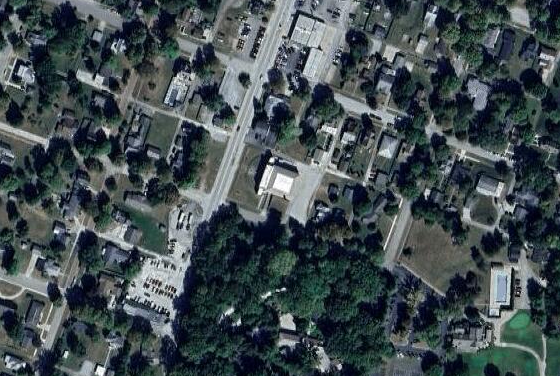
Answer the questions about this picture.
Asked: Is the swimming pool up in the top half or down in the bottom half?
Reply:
bottom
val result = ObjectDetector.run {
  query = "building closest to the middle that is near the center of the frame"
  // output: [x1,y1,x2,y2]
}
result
[257,158,299,197]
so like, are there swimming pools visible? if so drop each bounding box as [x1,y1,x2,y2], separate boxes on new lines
[491,263,514,310]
